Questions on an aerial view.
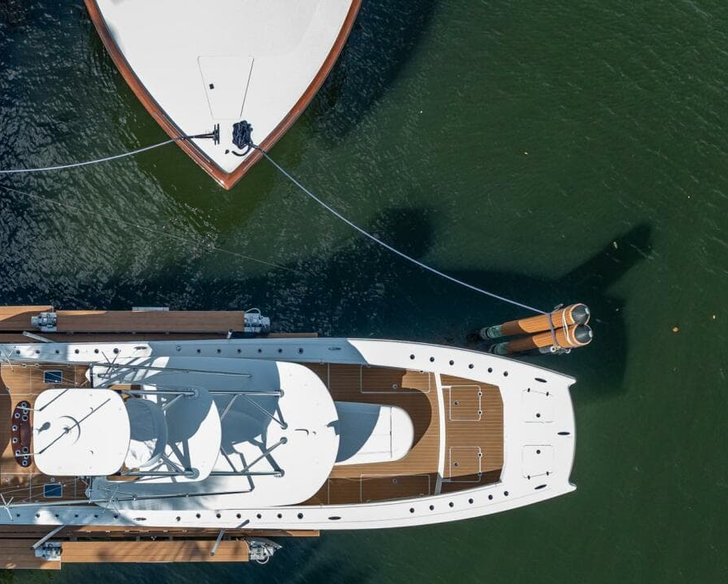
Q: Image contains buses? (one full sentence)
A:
No, no bus can be seen from above.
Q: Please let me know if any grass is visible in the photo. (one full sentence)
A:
No, the scene doesn't show any grass.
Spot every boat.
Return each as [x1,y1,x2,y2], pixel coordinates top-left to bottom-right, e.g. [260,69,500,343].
[0,337,575,530]
[85,0,361,190]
